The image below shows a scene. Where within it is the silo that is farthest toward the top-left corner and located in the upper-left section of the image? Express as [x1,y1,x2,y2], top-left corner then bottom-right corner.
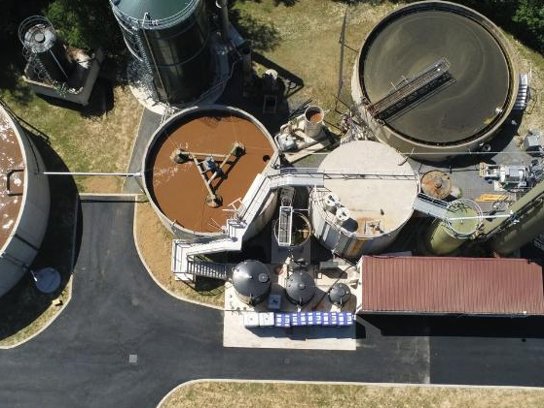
[17,10,74,81]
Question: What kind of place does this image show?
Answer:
industrial area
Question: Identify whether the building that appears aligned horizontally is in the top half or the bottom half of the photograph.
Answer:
bottom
